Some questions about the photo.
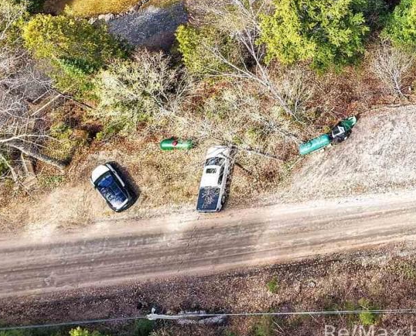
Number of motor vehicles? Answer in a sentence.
The count of motor vehicles comes to 3.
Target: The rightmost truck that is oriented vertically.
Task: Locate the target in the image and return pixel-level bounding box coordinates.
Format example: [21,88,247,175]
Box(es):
[197,147,230,215]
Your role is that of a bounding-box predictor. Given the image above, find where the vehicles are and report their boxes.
[324,116,358,142]
[197,147,230,215]
[93,166,133,215]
